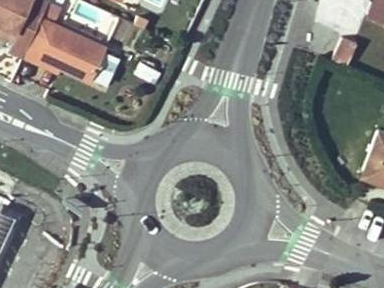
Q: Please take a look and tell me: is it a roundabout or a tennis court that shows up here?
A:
roundabout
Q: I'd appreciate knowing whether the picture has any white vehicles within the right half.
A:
Yes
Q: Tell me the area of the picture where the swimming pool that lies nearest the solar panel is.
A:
top left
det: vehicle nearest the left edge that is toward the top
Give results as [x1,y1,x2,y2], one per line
[20,62,34,82]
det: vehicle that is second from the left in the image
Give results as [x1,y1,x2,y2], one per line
[38,68,54,87]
